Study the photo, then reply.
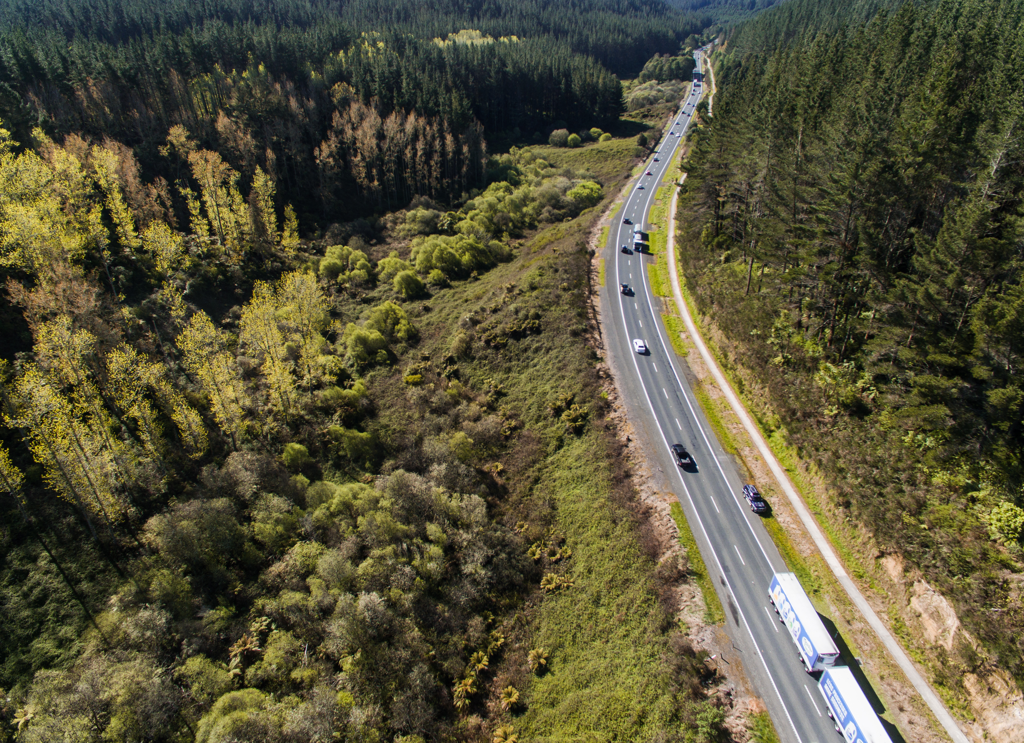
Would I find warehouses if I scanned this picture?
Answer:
No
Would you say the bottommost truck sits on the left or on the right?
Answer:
right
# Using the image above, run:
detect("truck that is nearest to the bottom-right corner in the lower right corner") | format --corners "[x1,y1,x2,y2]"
[818,665,894,743]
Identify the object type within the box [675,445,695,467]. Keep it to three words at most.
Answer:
vehicle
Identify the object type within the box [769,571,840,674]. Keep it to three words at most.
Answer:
trailer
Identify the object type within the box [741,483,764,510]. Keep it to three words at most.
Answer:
car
